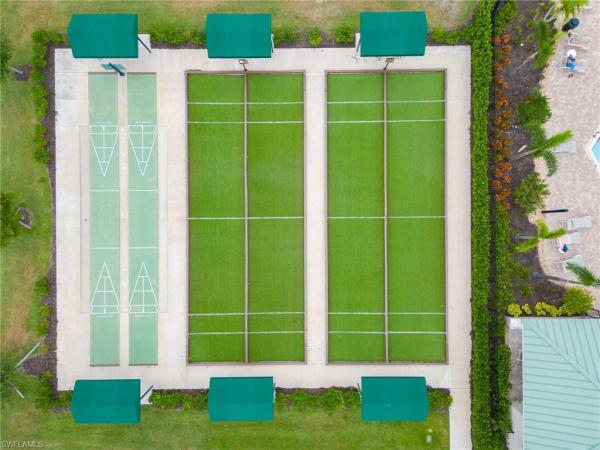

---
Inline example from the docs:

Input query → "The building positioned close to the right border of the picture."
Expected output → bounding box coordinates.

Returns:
[512,313,600,450]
